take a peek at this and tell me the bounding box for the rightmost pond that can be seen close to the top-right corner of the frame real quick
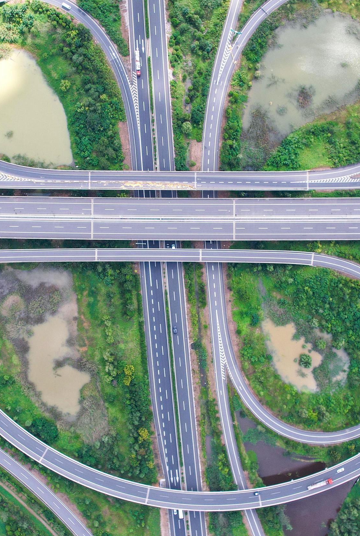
[241,8,360,151]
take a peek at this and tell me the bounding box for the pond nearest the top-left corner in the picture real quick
[0,45,75,170]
